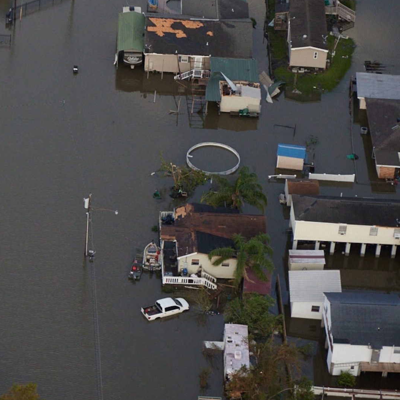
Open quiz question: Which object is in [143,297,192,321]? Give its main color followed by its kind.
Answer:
white truck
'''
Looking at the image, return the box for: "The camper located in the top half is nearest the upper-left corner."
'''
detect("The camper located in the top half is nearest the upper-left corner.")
[118,49,139,65]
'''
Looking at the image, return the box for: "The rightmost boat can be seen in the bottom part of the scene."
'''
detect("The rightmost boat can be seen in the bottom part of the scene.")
[144,238,162,274]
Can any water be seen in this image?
Yes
